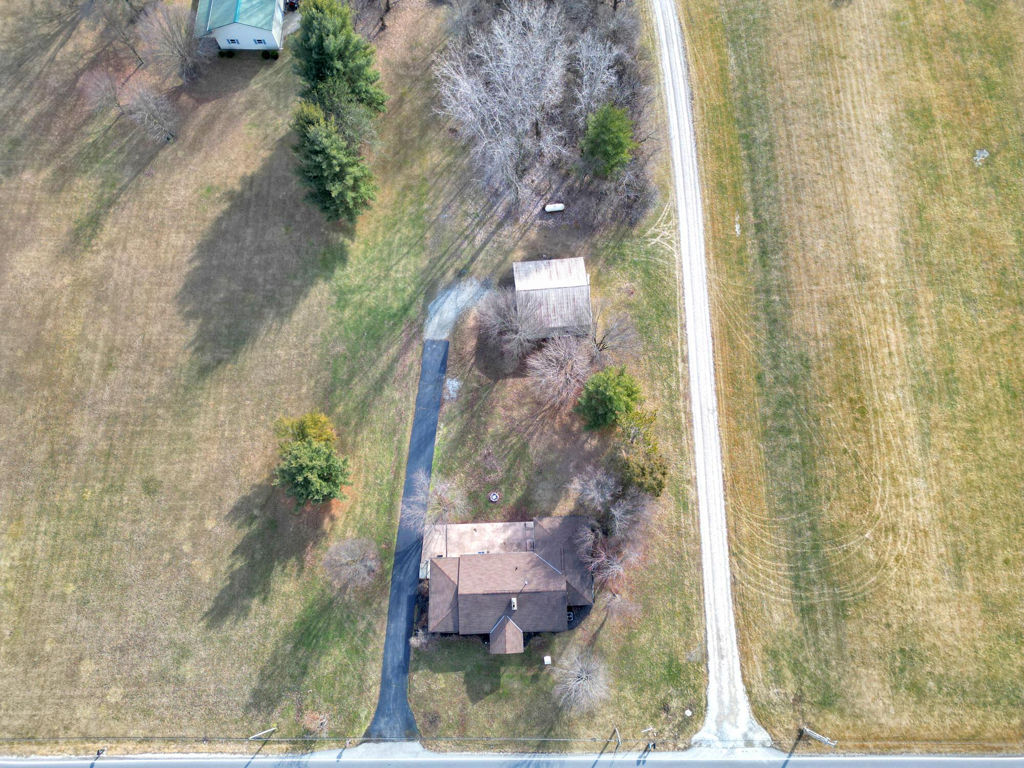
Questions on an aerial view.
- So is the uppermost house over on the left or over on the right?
left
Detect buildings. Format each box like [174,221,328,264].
[428,515,594,654]
[193,0,284,51]
[513,258,591,345]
